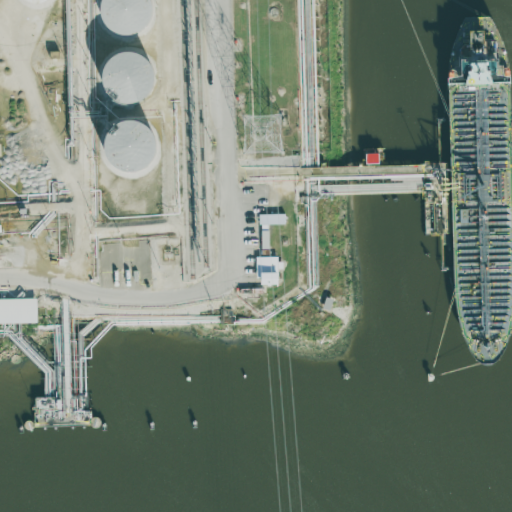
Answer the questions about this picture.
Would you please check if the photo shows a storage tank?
Yes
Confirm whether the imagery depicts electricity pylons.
Yes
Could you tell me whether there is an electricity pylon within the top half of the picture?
Yes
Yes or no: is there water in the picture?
Yes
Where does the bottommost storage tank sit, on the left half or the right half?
left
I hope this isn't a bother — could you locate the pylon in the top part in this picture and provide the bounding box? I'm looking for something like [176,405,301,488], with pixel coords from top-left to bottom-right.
[243,114,284,154]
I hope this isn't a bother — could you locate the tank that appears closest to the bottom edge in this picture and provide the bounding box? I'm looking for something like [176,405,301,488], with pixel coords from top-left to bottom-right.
[102,118,162,178]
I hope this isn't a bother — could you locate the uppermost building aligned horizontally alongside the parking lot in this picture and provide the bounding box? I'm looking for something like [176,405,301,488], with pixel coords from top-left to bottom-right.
[260,214,286,226]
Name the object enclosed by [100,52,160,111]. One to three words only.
storage tank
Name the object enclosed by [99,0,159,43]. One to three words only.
storage tank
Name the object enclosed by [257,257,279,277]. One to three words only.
building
